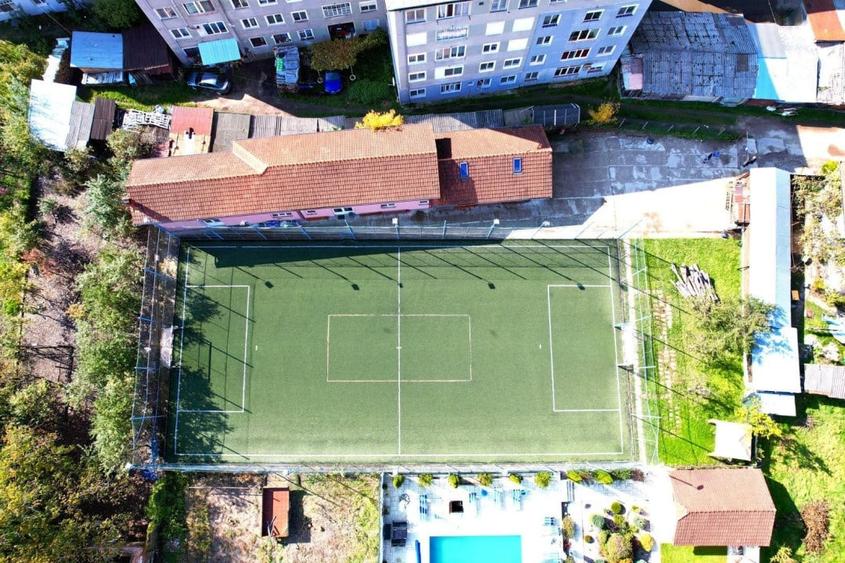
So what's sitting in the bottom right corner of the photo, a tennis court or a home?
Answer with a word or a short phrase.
home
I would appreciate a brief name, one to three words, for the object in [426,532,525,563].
swimming pool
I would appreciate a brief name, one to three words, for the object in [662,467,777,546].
house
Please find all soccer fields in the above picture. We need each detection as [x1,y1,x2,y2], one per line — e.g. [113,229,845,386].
[164,239,635,464]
